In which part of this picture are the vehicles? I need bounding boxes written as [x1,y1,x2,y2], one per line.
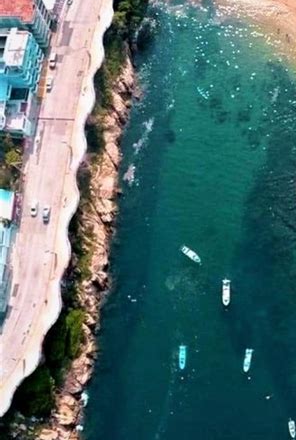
[49,52,57,67]
[47,79,53,90]
[43,208,50,220]
[32,202,38,216]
